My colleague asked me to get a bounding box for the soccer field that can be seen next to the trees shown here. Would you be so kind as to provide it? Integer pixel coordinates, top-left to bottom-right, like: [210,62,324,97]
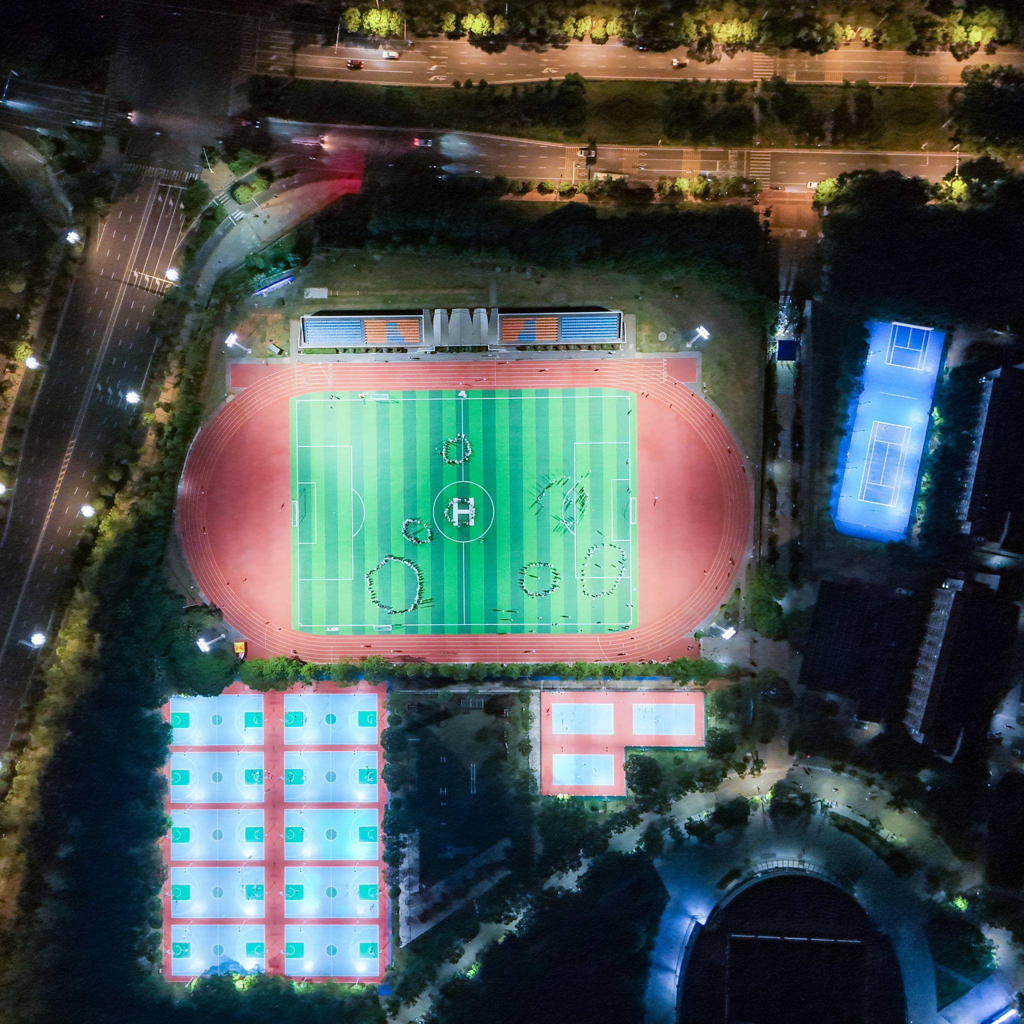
[289,387,639,635]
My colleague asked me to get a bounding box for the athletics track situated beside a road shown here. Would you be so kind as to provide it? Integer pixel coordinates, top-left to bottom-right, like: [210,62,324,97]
[176,357,753,666]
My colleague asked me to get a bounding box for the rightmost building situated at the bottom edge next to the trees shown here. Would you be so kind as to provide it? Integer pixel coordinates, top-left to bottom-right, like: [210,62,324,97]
[660,852,910,1024]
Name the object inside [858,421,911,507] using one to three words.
tennis court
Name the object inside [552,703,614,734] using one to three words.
sports court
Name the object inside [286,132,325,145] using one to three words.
vehicle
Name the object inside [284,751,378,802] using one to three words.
basketball court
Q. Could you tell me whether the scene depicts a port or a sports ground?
sports ground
